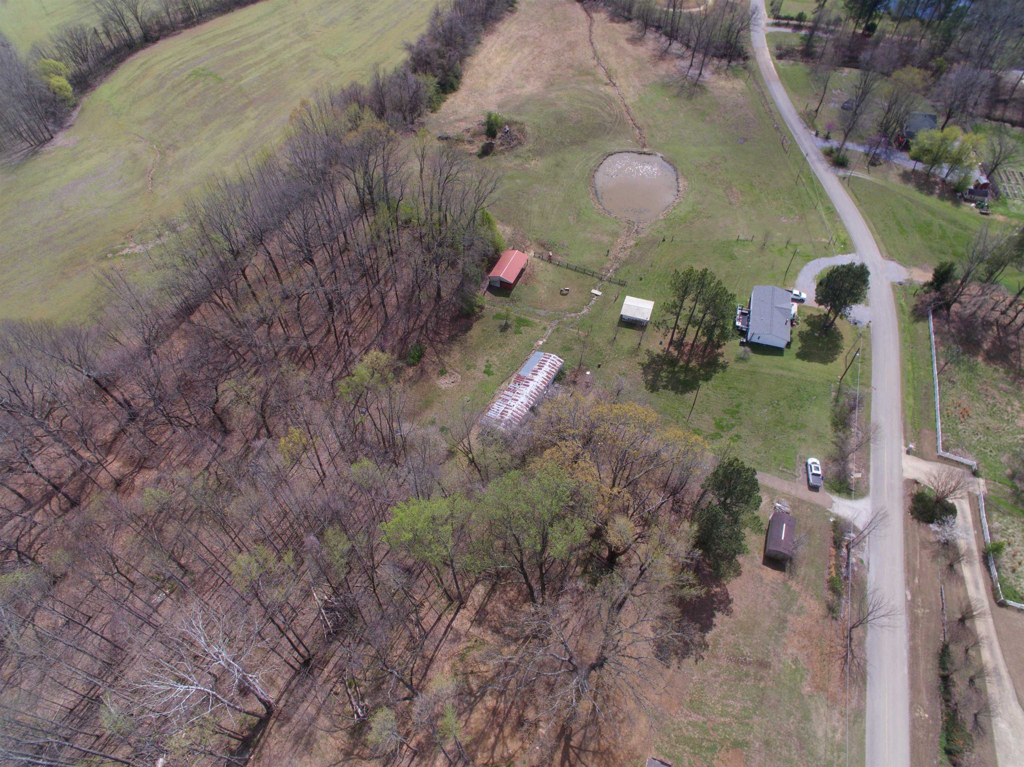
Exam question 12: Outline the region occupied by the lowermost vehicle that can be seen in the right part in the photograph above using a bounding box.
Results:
[804,457,823,486]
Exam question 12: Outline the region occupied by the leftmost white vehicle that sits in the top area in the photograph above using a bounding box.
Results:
[791,290,809,302]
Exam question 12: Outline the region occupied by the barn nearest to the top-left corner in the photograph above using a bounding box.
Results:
[489,249,529,292]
